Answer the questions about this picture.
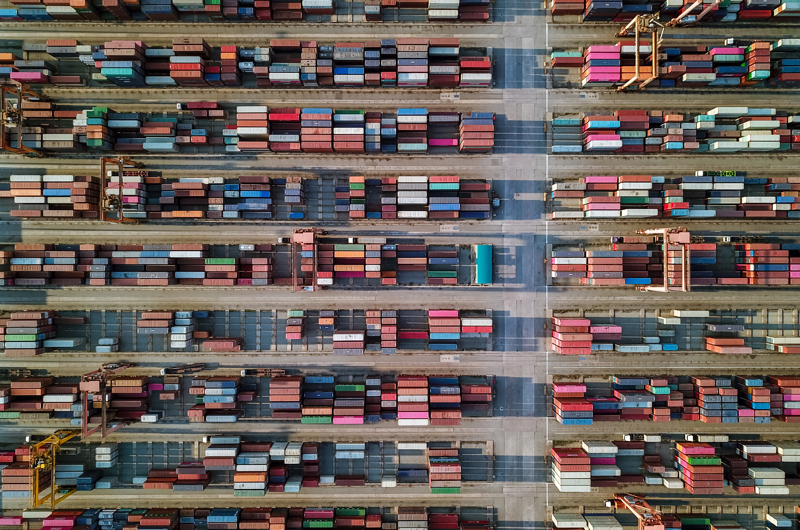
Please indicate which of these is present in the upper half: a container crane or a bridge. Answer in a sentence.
You can see a container crane in the upper half.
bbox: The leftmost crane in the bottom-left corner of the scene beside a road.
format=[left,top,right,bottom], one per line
[32,427,91,511]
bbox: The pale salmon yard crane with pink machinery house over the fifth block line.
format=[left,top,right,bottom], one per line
[634,227,691,294]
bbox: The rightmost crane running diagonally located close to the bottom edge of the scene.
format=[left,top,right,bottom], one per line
[612,492,669,530]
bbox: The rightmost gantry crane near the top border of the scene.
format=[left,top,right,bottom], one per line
[661,0,723,28]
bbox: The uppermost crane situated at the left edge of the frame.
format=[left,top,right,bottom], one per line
[0,81,60,159]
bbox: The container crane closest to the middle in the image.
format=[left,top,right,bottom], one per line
[292,227,329,294]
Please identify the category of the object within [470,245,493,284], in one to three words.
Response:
shed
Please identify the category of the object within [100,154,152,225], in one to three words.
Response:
container crane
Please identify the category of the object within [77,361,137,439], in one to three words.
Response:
container crane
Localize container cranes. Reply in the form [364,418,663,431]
[77,361,137,439]
[100,154,152,225]
[32,427,91,511]
[608,9,664,94]
[634,227,691,294]
[292,227,329,294]
[661,0,723,28]
[0,81,60,159]
[612,492,669,530]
